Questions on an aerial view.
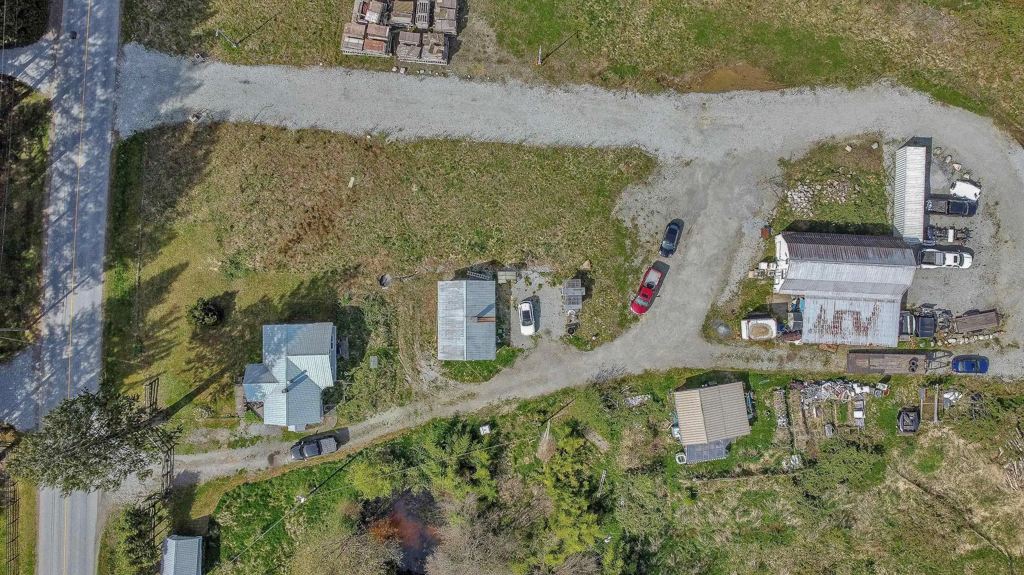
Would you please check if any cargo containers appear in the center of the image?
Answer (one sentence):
No, I see no cargo container in the center of the image.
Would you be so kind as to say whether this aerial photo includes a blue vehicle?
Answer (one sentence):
Yes, this view includes a blue vehicle.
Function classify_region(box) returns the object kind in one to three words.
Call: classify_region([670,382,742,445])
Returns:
shed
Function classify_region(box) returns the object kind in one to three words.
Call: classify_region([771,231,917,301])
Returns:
barn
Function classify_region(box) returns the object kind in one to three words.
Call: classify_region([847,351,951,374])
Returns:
trailer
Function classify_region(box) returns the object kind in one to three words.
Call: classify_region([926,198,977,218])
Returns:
vehicle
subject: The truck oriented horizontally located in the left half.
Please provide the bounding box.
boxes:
[291,434,339,460]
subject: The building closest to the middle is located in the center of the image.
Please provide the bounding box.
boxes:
[438,280,496,362]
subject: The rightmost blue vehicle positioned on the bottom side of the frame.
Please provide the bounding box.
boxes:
[950,357,988,376]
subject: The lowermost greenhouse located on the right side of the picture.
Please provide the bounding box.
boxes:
[682,440,726,466]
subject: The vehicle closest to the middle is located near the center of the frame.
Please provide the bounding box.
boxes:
[518,300,537,336]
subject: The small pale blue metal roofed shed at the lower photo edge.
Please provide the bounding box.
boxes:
[167,528,212,575]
